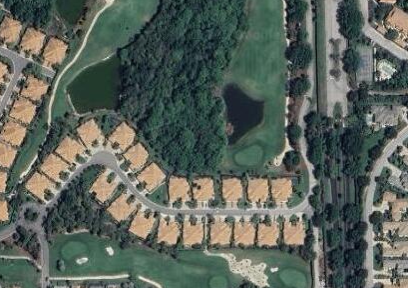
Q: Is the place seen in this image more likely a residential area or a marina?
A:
residential area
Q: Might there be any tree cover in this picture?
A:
Yes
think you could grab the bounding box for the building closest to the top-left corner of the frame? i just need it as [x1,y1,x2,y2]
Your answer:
[0,18,22,44]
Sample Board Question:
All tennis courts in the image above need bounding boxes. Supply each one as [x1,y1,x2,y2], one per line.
[356,46,374,81]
